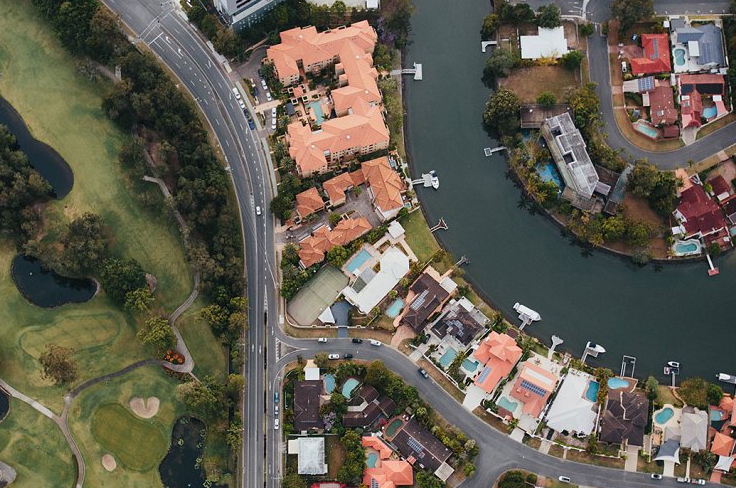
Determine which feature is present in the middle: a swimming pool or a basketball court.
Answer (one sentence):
The one visible in the middle is a swimming pool.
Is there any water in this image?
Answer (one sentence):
Yes, the picture does contain water.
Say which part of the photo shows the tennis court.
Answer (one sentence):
The tennis court is located in the center region of the scene.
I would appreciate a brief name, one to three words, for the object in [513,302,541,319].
boat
